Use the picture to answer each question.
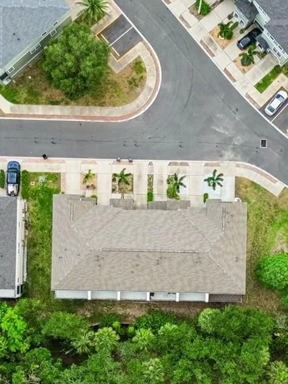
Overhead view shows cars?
Yes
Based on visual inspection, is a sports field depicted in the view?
No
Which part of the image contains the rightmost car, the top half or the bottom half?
top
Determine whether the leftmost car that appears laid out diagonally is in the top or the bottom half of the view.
top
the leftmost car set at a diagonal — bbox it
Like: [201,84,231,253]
[234,24,260,50]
